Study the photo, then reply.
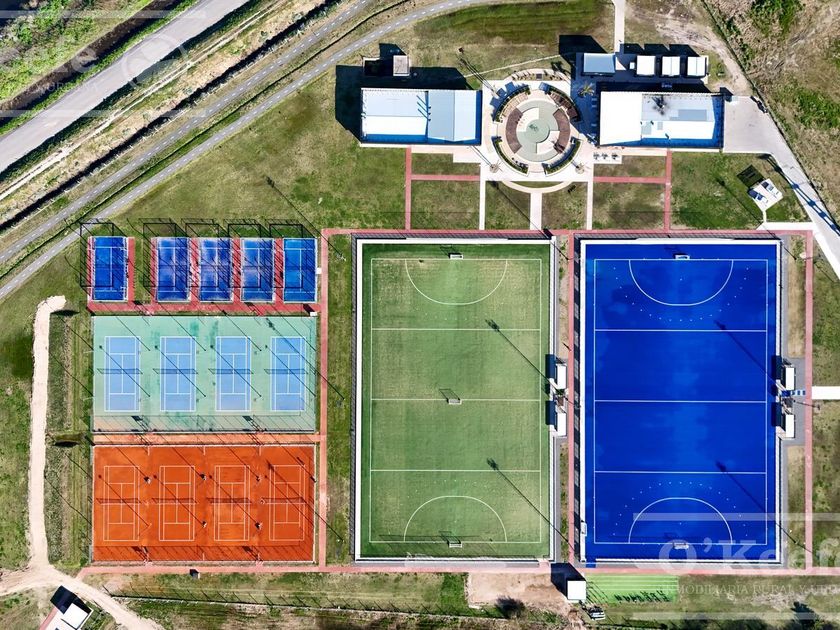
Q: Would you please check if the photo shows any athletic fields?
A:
Yes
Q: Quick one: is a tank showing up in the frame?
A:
No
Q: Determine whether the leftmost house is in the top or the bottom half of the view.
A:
bottom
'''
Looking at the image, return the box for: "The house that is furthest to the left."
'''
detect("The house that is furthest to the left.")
[62,600,90,630]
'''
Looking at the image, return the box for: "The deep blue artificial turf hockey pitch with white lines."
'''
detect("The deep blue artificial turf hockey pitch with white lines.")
[581,240,780,563]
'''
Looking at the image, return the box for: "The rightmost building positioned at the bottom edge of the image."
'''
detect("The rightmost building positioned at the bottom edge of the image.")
[564,578,587,602]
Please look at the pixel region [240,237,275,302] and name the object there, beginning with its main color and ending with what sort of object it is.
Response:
blue sports court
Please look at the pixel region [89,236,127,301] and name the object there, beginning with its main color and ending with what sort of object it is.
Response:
blue sports court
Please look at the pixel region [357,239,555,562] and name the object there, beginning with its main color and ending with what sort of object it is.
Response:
green sports field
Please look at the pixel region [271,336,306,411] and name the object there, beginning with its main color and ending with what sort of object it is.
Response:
blue tennis court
